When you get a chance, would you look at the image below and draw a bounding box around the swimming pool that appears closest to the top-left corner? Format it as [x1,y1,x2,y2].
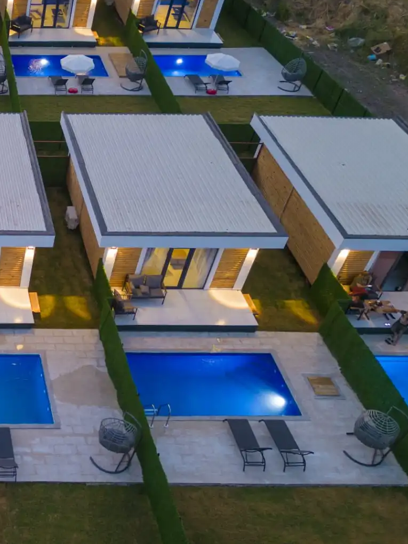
[14,53,114,80]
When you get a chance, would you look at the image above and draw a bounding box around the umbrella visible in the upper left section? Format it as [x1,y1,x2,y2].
[59,53,96,93]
